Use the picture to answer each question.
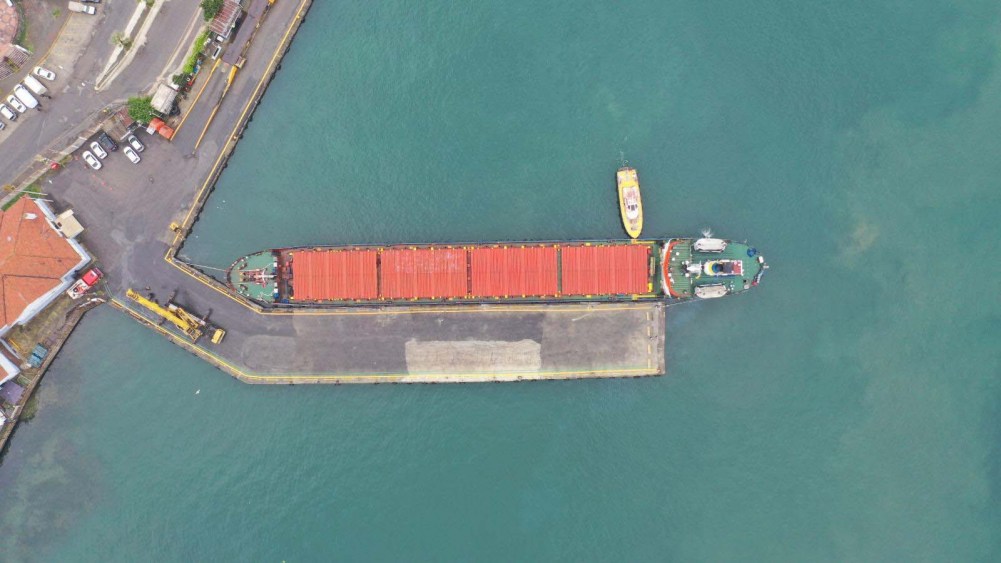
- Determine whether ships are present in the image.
Yes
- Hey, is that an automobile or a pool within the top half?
automobile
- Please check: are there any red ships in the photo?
Yes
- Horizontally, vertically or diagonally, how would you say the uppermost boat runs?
vertically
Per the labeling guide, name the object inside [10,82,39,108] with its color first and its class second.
white vehicle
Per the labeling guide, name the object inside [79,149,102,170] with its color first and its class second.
white car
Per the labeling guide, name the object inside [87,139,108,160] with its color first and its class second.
white car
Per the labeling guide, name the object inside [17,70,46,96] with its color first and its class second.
white truck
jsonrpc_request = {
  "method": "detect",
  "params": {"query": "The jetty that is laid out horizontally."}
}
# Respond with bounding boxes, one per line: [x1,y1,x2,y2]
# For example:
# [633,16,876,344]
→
[106,256,666,385]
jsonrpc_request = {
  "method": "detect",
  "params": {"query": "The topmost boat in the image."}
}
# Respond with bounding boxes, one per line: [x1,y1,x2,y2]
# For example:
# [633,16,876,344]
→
[616,166,642,238]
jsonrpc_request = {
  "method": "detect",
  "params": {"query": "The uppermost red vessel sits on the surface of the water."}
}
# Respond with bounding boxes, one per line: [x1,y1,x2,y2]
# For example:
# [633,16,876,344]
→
[228,239,770,306]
